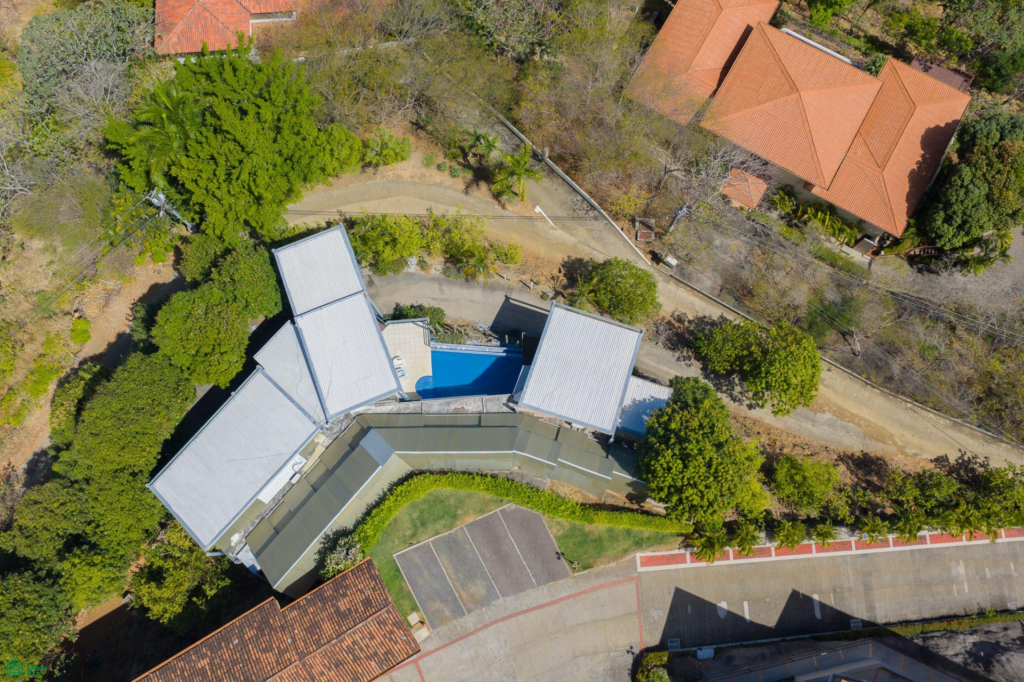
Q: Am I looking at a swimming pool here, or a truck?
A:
swimming pool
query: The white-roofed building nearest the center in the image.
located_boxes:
[510,298,673,444]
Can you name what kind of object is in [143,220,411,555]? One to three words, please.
house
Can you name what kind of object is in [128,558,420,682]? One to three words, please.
house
